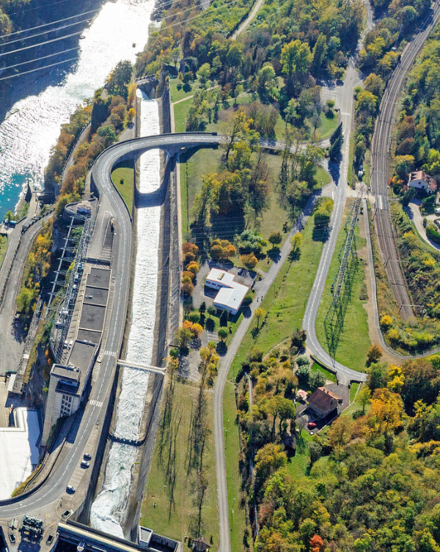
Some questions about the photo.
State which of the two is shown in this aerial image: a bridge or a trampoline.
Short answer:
bridge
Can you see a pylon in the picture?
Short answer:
Yes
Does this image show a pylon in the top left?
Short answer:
No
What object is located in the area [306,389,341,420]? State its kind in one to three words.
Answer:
house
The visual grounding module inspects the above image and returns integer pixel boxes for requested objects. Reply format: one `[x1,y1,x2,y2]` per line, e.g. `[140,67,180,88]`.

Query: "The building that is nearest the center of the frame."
[205,268,250,314]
